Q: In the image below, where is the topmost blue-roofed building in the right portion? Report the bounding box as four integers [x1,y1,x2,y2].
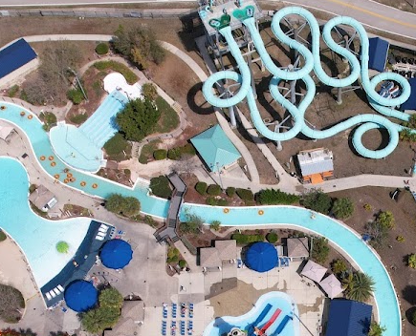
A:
[369,38,389,76]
